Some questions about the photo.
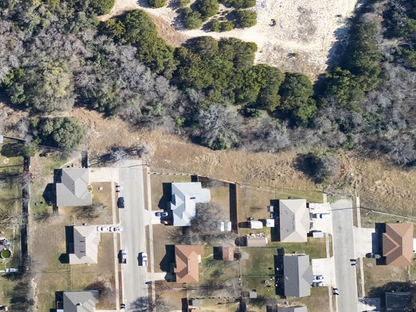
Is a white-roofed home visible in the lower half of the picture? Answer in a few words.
Yes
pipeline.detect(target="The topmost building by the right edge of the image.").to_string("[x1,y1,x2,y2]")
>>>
[380,222,416,266]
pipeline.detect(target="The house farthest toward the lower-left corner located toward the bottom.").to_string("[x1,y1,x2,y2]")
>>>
[56,289,99,312]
